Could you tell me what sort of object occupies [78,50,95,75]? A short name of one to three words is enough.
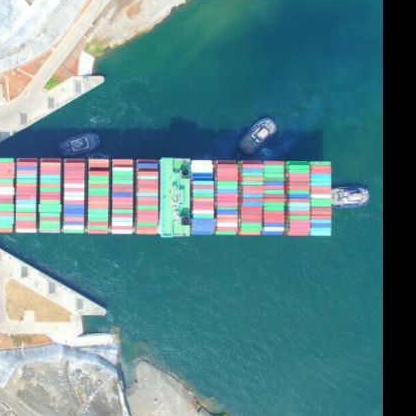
shed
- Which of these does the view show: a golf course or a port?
port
